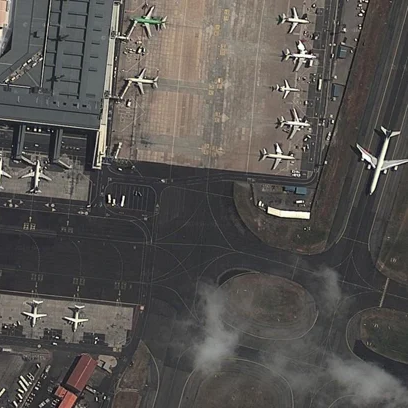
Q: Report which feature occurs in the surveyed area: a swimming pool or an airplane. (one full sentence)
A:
Looking from above, you can make out an airplane.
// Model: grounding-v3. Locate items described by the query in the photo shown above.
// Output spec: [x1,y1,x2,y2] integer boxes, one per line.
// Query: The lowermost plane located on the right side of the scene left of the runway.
[260,142,294,168]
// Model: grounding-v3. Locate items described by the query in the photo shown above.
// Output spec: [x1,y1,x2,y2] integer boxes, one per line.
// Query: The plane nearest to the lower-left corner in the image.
[23,299,48,327]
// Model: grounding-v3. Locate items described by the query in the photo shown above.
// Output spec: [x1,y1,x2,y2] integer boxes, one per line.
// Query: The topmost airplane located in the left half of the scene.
[131,6,168,36]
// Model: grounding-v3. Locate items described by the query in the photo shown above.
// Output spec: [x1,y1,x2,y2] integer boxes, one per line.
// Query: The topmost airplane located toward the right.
[279,7,310,33]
